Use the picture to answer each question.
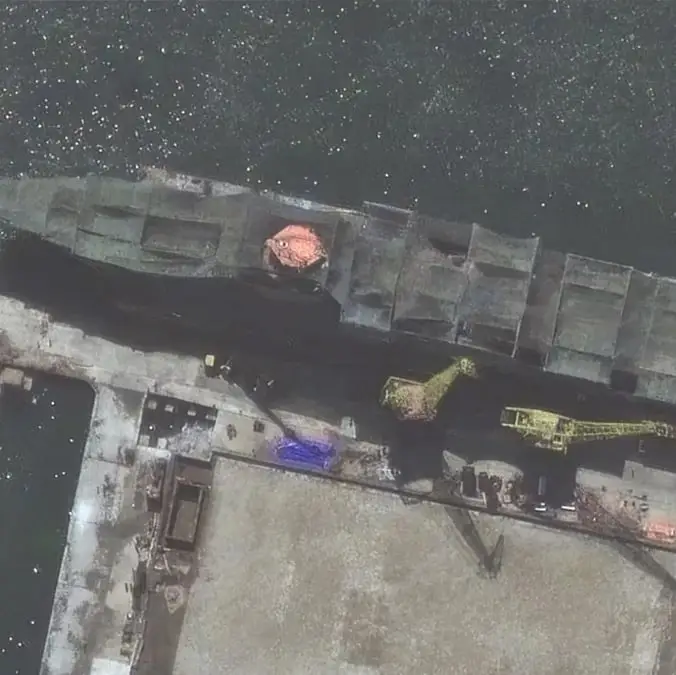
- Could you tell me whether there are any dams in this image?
No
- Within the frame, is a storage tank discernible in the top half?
No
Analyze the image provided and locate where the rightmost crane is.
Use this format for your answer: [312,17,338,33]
[500,406,676,456]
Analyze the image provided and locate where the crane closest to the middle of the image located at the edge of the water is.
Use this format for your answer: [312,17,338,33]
[383,360,477,425]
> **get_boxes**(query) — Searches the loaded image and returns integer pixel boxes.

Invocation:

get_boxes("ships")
[0,167,676,403]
